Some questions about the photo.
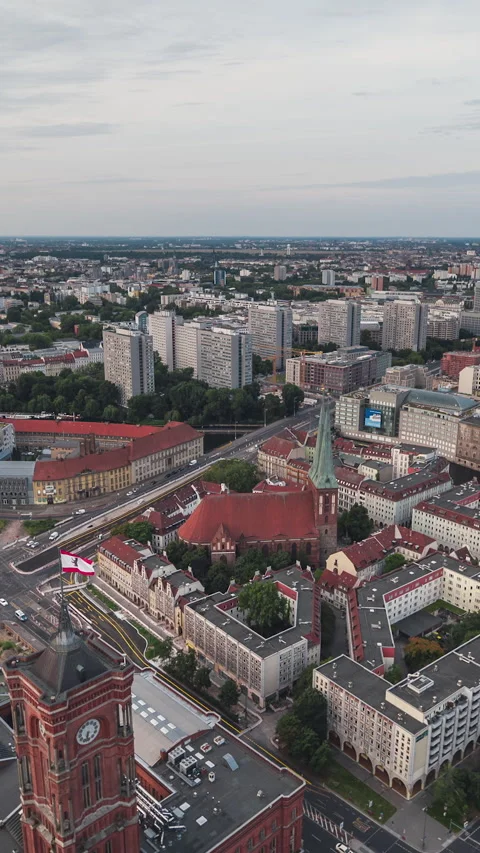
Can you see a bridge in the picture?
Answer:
Yes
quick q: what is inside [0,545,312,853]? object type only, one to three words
building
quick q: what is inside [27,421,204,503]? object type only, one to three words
building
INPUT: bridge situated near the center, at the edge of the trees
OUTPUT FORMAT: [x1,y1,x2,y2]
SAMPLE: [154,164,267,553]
[202,412,318,459]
